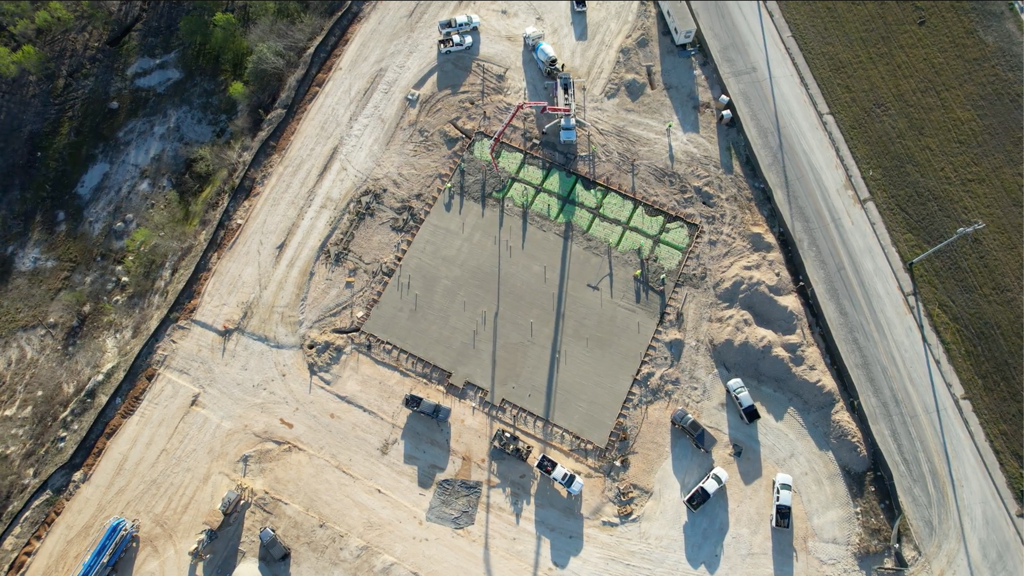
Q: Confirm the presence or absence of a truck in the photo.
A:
Yes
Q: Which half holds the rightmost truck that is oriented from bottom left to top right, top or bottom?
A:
bottom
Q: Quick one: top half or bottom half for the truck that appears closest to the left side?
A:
bottom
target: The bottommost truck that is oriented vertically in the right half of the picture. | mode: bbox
[770,474,796,530]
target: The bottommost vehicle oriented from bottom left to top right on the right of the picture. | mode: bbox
[682,466,729,515]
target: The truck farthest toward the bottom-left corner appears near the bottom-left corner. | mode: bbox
[70,507,153,576]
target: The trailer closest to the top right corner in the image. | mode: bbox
[646,0,696,52]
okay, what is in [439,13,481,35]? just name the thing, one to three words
truck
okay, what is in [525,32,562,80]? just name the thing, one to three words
truck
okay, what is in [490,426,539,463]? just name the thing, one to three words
trailer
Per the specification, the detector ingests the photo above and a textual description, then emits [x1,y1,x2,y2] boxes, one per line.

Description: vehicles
[573,0,588,12]
[770,474,796,530]
[258,526,291,567]
[200,478,255,557]
[726,379,762,424]
[70,507,153,576]
[669,408,717,454]
[439,33,474,55]
[682,466,729,515]
[534,453,584,494]
[402,392,452,423]
[489,78,592,178]
[439,13,481,35]
[525,32,562,80]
